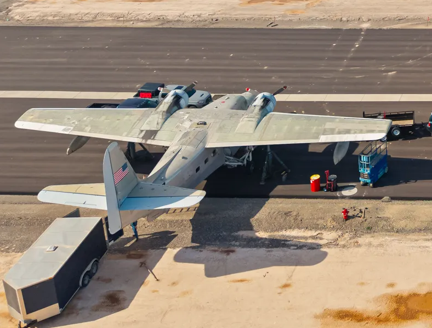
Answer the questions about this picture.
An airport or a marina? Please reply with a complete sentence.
The picture captures an airport.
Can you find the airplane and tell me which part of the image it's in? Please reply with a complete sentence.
You can find the airplane in the center area of the picture.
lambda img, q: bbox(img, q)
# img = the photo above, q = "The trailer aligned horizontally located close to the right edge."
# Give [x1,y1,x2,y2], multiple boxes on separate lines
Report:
[362,106,429,135]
